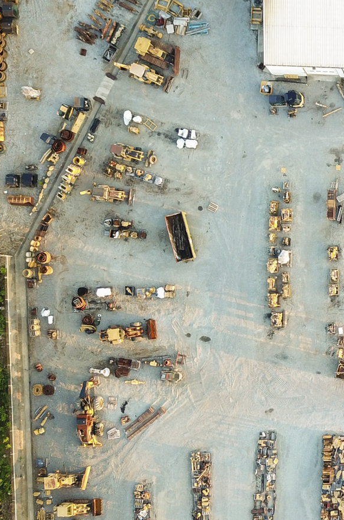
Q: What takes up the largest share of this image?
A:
paved ground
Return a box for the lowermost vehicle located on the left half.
[55,494,113,519]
